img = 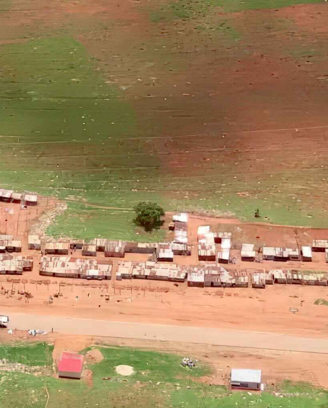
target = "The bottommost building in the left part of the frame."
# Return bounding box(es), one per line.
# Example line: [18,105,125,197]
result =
[59,353,84,380]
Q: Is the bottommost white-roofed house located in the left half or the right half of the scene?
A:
right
